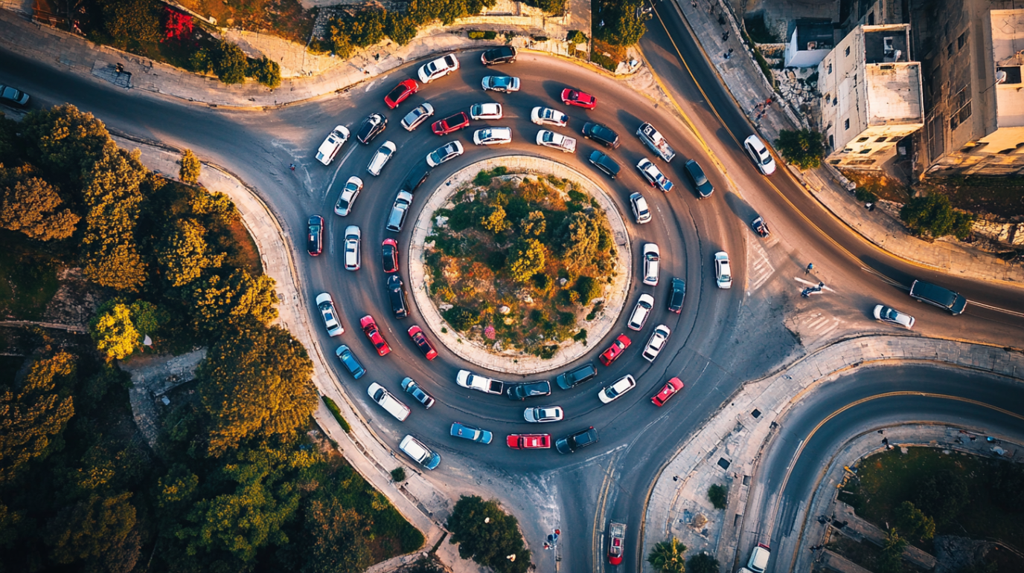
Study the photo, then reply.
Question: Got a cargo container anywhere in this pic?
No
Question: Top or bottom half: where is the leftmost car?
top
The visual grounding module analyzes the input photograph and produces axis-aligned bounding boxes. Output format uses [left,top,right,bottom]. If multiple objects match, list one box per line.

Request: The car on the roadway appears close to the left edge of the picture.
[0,82,33,107]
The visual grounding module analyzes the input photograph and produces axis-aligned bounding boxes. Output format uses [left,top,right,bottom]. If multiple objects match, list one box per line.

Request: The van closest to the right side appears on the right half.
[906,280,967,313]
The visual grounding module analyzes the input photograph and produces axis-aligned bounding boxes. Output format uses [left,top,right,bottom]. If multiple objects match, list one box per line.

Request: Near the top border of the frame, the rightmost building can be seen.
[921,0,1024,169]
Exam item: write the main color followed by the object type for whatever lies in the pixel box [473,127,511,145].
white vehicle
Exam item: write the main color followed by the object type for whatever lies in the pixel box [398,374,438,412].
blue car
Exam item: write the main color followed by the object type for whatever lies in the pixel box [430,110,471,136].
red truck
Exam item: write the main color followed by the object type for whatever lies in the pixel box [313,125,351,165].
white van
